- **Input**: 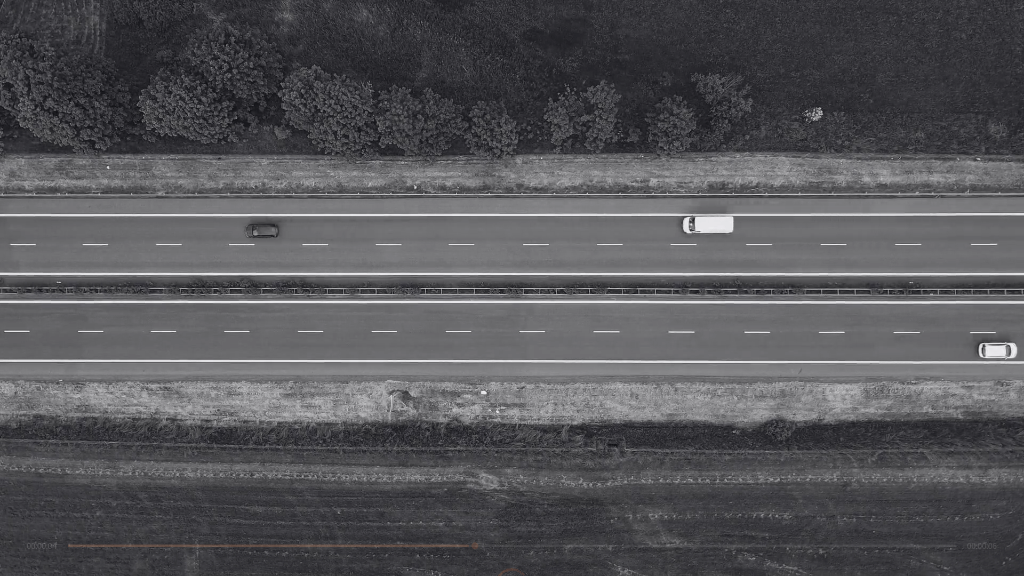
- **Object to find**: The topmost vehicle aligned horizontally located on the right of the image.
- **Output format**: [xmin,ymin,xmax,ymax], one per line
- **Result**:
[682,214,733,236]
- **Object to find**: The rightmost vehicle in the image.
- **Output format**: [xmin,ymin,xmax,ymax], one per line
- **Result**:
[977,342,1017,360]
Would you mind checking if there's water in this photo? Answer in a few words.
No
